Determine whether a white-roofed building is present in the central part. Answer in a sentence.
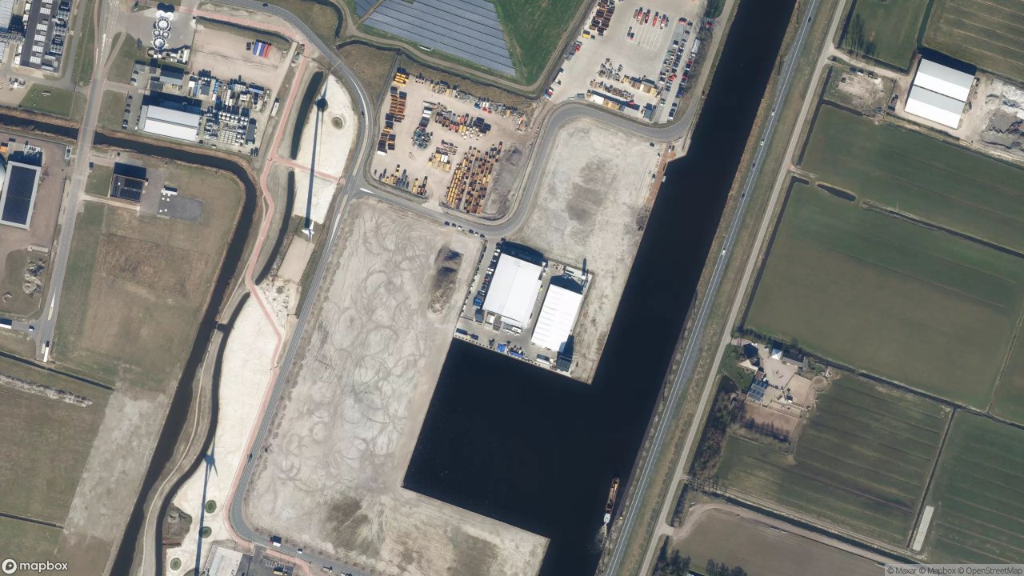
Yes, there is a white-roofed building in the central part.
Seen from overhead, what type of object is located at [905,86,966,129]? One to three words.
barn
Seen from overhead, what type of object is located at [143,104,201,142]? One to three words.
building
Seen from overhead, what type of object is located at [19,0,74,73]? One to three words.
building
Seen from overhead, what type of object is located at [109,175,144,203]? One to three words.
shed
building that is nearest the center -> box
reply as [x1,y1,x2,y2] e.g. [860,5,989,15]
[483,253,543,323]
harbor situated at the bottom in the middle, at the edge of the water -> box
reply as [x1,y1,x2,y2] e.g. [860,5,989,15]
[401,337,593,541]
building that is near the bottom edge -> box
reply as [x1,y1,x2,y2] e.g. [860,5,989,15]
[203,546,242,576]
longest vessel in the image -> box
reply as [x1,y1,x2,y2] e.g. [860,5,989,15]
[603,478,618,525]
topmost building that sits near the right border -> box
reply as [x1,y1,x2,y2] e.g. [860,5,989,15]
[914,58,975,102]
